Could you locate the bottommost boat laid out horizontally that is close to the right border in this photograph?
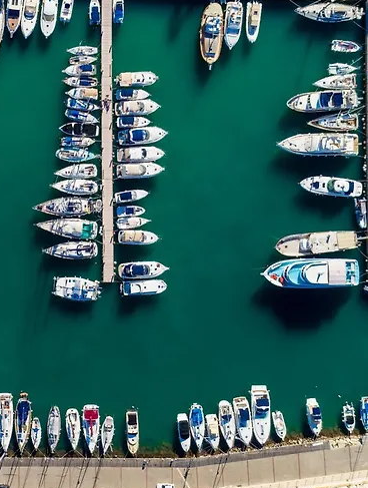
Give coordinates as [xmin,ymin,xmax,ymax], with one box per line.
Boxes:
[264,256,366,292]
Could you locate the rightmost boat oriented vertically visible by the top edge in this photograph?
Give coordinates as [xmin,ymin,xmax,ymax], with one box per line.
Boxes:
[245,0,261,42]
